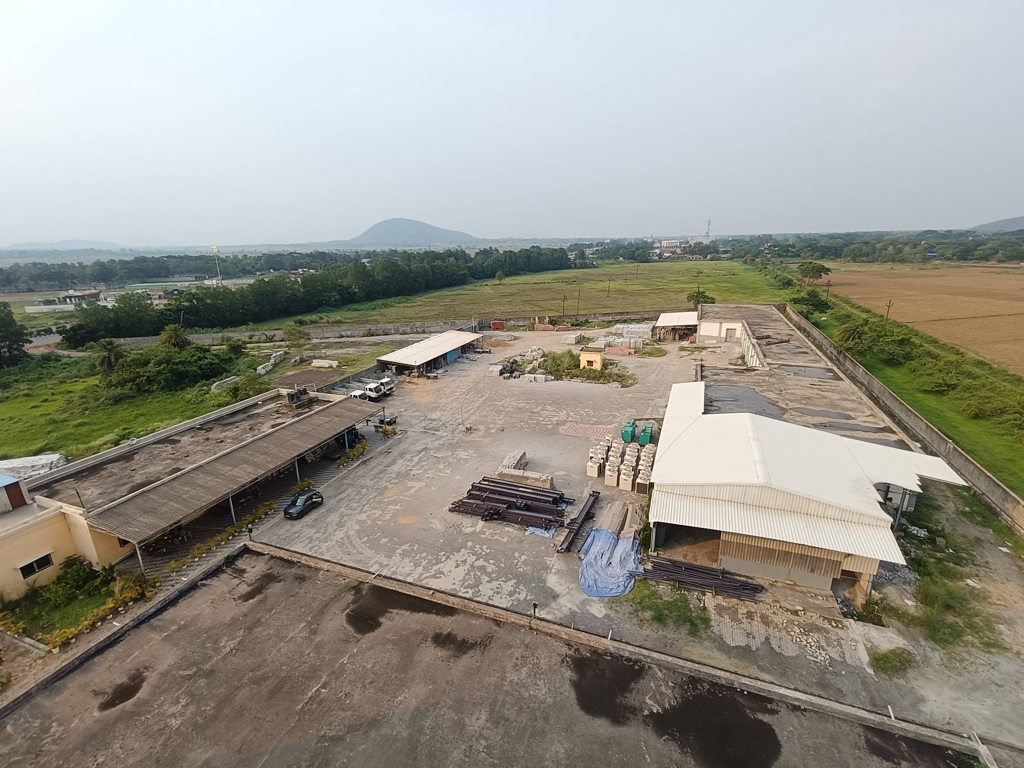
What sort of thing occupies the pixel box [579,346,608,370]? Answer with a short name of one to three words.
shed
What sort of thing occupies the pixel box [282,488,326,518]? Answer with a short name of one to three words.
car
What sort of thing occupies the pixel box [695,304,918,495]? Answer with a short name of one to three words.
building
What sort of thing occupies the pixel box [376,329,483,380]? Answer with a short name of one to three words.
shed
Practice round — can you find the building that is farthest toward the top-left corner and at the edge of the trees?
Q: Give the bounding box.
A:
[50,288,104,304]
